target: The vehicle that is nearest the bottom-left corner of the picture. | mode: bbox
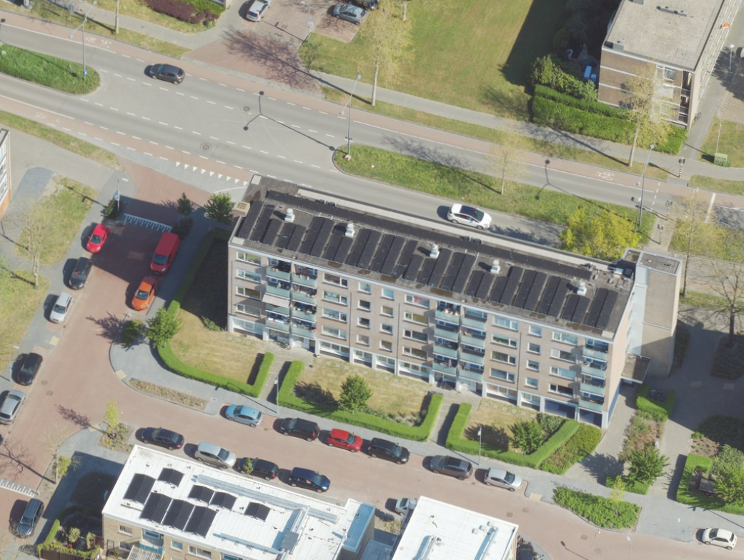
[16,498,46,539]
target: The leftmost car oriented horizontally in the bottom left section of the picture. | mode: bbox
[139,427,187,452]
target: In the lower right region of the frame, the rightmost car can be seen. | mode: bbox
[700,528,738,551]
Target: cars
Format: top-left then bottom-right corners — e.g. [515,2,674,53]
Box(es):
[449,204,492,230]
[147,62,187,87]
[16,498,46,539]
[16,349,45,389]
[242,0,271,25]
[481,467,524,494]
[0,0,35,9]
[66,256,94,292]
[324,429,366,455]
[516,538,539,560]
[139,427,187,452]
[286,466,333,495]
[223,404,266,429]
[236,455,282,482]
[130,277,159,312]
[193,441,238,471]
[84,221,112,257]
[46,288,76,327]
[279,418,321,443]
[386,494,418,517]
[427,455,474,481]
[330,1,370,24]
[366,439,410,465]
[700,528,738,551]
[0,390,27,428]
